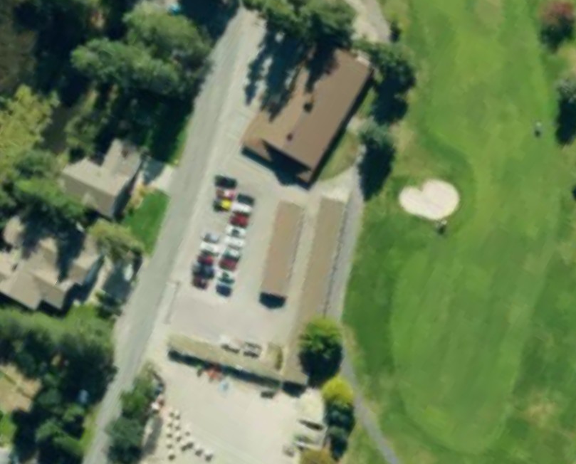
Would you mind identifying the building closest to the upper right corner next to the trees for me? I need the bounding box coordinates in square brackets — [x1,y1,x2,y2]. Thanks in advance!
[244,39,369,185]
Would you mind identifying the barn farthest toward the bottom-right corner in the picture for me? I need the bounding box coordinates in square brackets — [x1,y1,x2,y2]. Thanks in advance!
[298,388,324,425]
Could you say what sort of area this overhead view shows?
golf course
